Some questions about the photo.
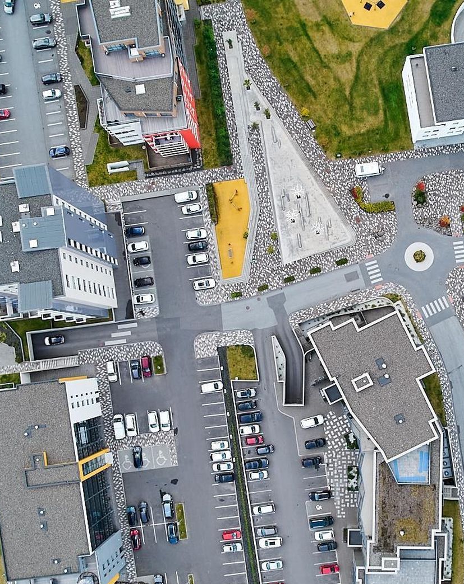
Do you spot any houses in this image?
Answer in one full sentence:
Yes, the image includes a house.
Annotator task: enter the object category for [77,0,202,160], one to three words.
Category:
building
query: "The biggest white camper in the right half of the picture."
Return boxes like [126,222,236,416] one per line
[355,162,384,179]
